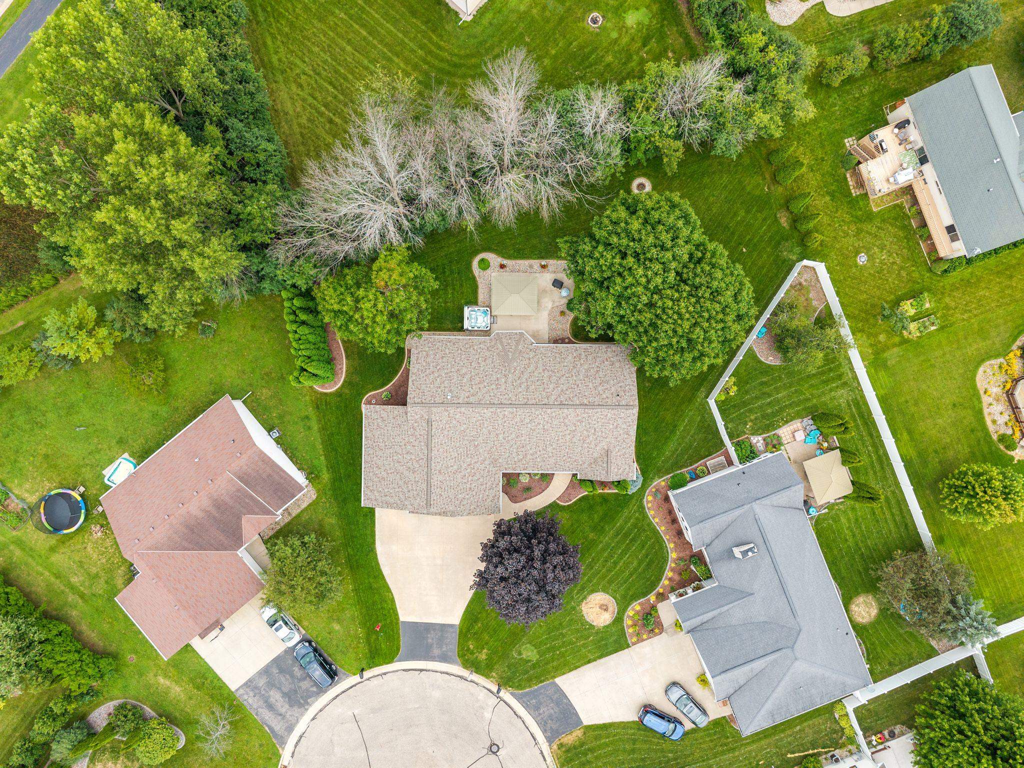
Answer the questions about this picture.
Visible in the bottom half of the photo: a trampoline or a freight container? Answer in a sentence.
The feature located in the bottom half of the photo is a trampoline.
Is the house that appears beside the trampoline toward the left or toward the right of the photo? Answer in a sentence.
It is on the left.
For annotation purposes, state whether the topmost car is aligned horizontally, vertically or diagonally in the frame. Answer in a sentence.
The topmost car runs diagonally in the image.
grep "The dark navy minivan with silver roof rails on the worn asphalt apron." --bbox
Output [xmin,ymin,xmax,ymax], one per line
[292,642,339,697]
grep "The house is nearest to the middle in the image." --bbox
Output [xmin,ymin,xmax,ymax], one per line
[361,329,638,517]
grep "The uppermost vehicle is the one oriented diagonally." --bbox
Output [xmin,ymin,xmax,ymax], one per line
[260,602,303,652]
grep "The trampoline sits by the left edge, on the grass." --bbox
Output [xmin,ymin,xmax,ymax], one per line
[30,487,97,537]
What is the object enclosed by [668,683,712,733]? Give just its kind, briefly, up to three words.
car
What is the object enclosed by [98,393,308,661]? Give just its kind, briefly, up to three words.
house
